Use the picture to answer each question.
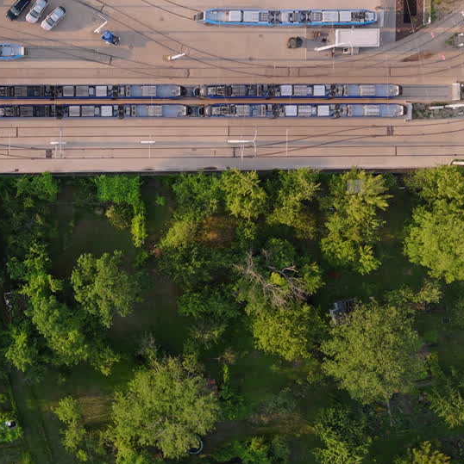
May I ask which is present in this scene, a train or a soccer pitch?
train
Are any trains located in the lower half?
No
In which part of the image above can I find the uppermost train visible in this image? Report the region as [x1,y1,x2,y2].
[191,9,375,28]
